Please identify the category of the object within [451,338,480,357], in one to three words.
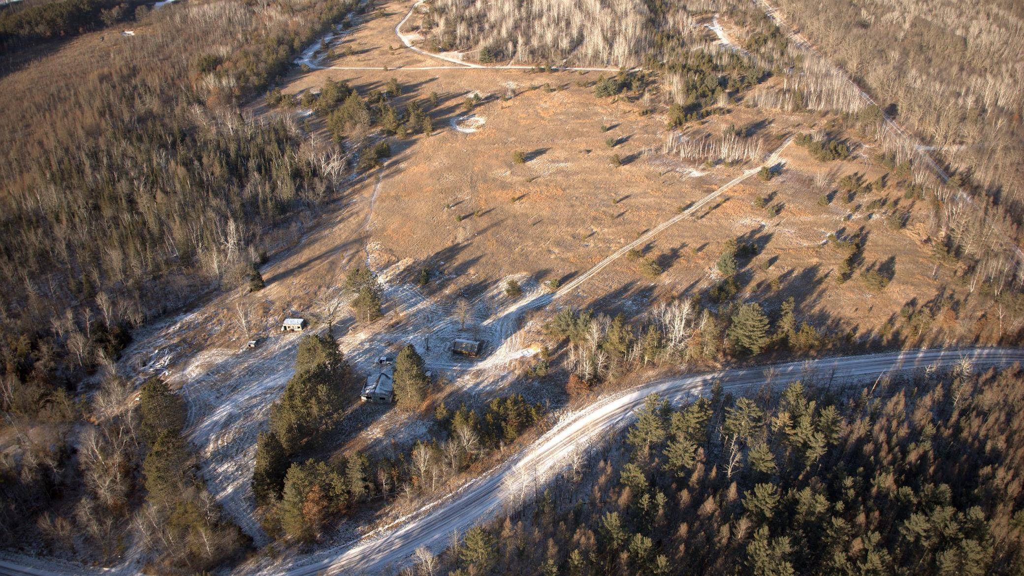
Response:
shed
